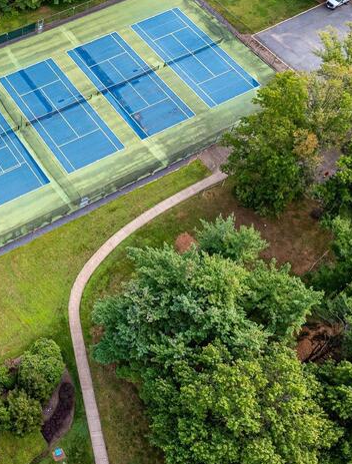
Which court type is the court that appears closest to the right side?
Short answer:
tennis court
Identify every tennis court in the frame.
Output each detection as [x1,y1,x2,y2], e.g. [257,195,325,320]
[0,57,125,174]
[66,31,194,139]
[0,112,50,205]
[131,7,260,107]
